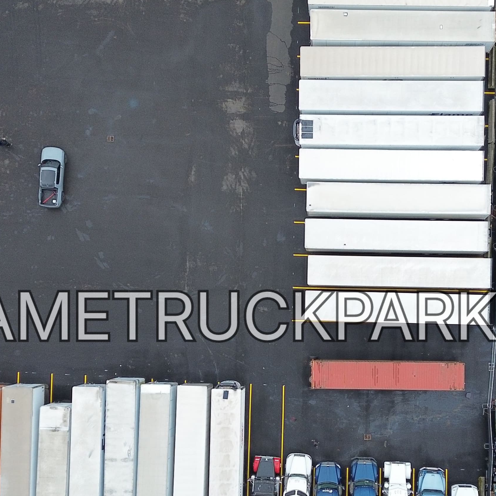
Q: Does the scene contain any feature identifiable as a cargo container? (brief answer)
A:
Yes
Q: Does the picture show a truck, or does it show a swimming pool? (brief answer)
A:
truck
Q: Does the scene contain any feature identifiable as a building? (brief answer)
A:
No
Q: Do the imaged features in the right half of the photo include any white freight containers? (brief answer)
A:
No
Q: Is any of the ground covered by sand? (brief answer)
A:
No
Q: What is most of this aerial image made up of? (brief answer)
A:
paved ground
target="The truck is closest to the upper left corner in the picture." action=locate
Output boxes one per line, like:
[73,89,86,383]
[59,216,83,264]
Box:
[38,147,69,209]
